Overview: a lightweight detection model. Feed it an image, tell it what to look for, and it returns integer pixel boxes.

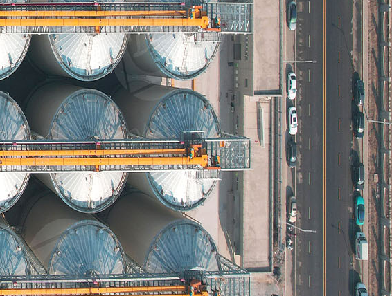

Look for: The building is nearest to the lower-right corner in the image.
[232,93,272,273]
